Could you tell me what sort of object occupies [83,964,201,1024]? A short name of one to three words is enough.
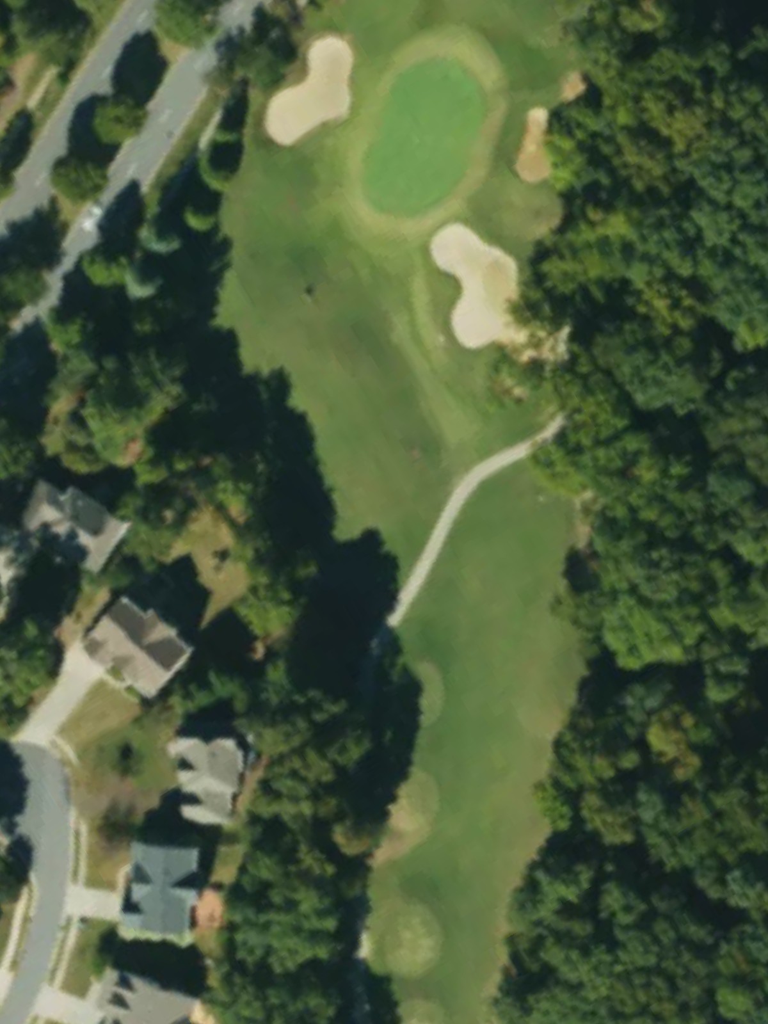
house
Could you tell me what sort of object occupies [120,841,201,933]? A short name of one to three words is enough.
house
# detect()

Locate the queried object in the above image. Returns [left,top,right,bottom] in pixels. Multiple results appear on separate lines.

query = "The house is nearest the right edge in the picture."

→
[168,735,243,824]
